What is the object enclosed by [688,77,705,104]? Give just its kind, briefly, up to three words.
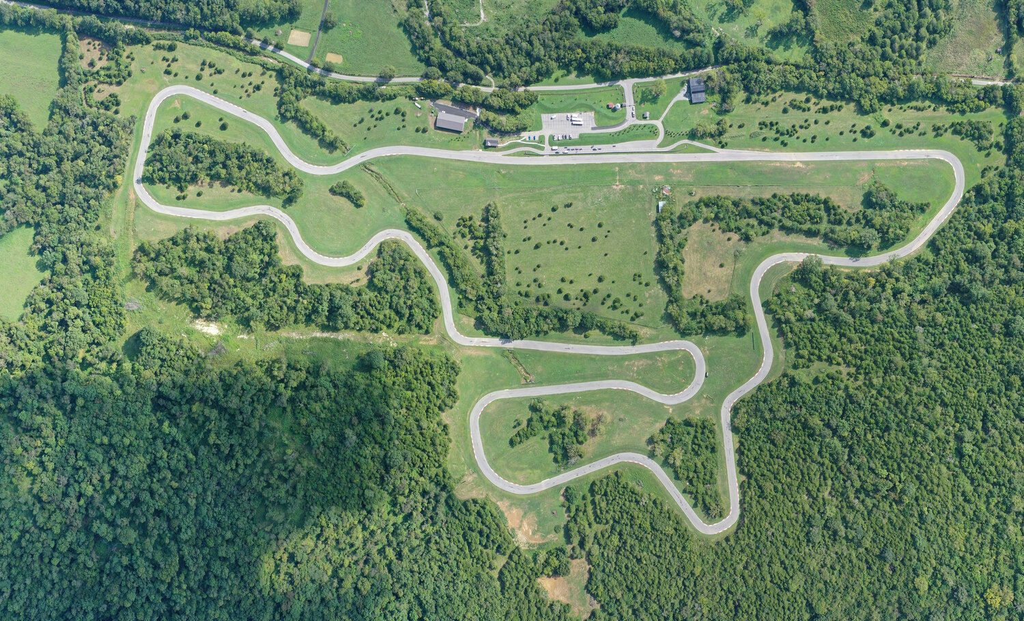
barn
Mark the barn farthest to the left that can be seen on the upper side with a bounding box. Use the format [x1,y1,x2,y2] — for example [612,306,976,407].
[436,111,466,133]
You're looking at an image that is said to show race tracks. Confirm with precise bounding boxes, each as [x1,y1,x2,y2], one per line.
[133,85,965,534]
